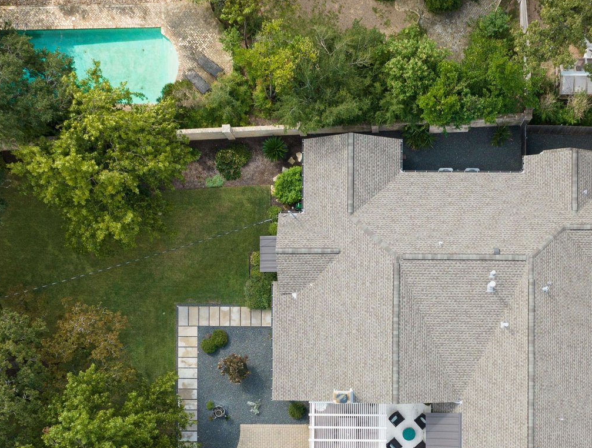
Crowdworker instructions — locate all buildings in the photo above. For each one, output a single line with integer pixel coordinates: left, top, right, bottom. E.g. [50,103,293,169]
[259,134,592,448]
[552,66,592,95]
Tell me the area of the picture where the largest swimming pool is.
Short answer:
top left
